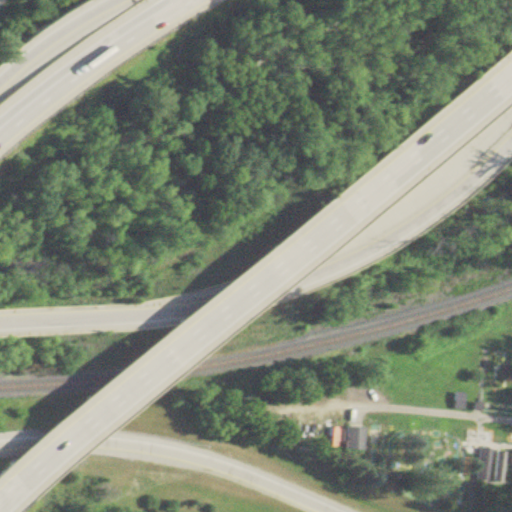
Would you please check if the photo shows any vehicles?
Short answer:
Yes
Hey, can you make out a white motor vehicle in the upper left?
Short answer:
Yes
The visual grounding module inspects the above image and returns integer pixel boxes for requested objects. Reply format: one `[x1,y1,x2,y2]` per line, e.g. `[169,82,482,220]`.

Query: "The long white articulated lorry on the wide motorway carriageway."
[78,44,120,74]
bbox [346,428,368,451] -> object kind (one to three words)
house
